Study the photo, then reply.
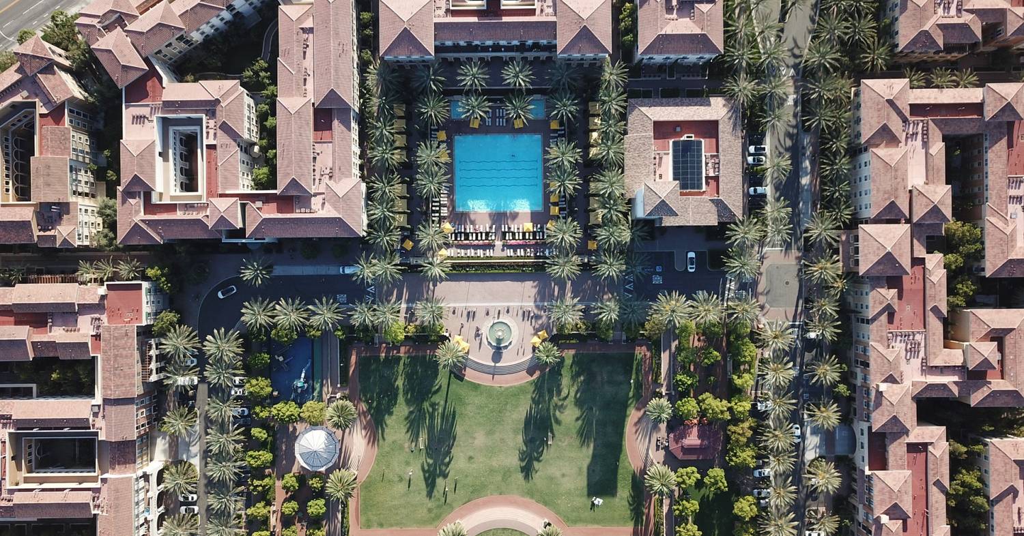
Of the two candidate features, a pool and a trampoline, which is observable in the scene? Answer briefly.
pool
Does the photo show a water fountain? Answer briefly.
Yes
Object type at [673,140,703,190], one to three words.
solar panel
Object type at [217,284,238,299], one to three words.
car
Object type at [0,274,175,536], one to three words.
building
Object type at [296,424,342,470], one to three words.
gazebo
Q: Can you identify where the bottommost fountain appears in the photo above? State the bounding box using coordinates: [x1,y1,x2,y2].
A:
[487,321,513,348]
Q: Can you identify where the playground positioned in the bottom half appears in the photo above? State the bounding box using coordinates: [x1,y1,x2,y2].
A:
[270,331,313,401]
